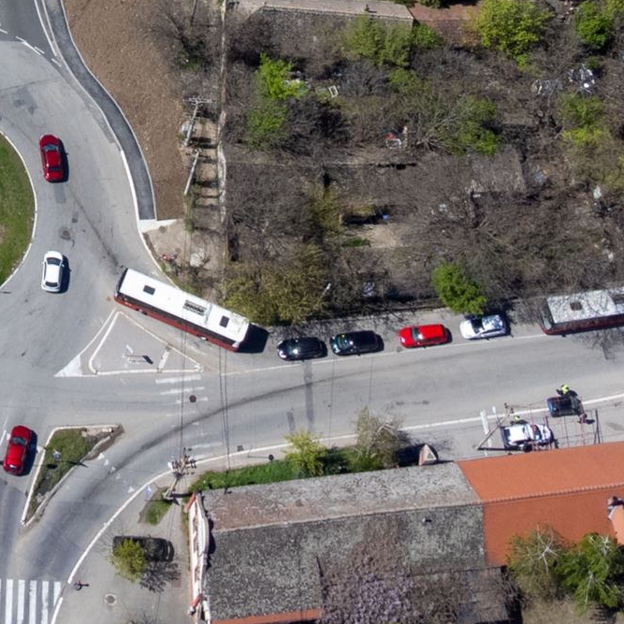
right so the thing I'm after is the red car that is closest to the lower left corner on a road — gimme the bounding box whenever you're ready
[4,427,33,477]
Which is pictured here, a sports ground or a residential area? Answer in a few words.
residential area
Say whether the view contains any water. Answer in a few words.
No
